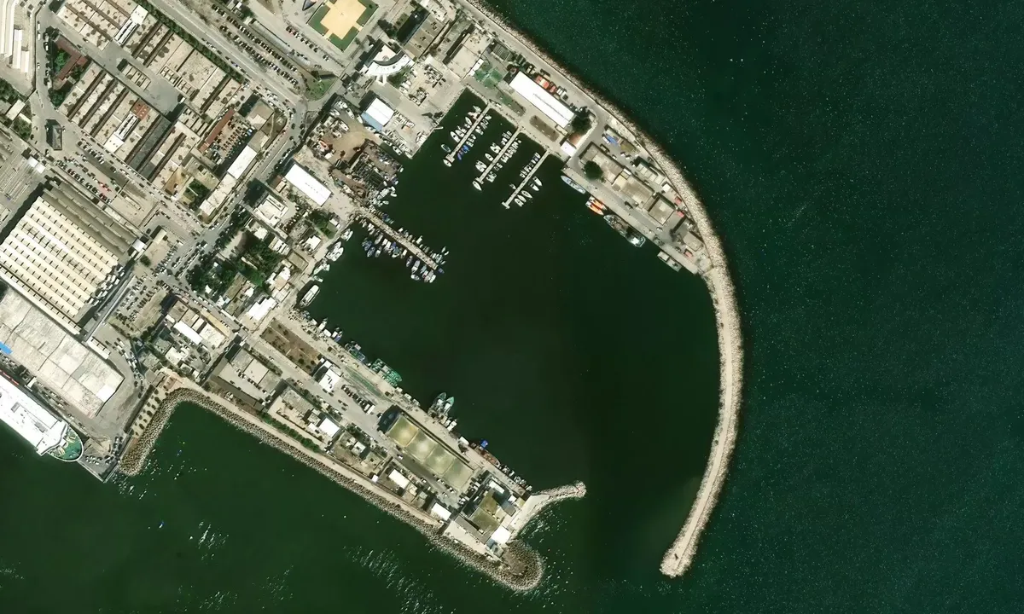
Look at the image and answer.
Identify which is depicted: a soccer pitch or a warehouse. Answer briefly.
warehouse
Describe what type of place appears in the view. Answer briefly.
port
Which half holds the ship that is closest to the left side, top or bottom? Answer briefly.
bottom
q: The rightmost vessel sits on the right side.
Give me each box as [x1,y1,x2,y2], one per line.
[658,251,681,271]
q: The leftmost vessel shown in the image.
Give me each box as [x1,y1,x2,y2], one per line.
[0,373,80,465]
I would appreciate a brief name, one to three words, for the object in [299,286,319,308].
boat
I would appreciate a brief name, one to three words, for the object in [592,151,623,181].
building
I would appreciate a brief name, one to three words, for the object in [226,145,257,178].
shed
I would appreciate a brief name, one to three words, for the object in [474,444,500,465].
ship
